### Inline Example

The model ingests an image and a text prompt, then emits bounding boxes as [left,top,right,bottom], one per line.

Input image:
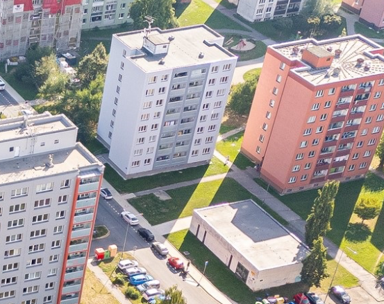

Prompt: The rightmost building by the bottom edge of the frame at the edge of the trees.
[189,198,300,290]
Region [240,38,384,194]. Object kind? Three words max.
building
